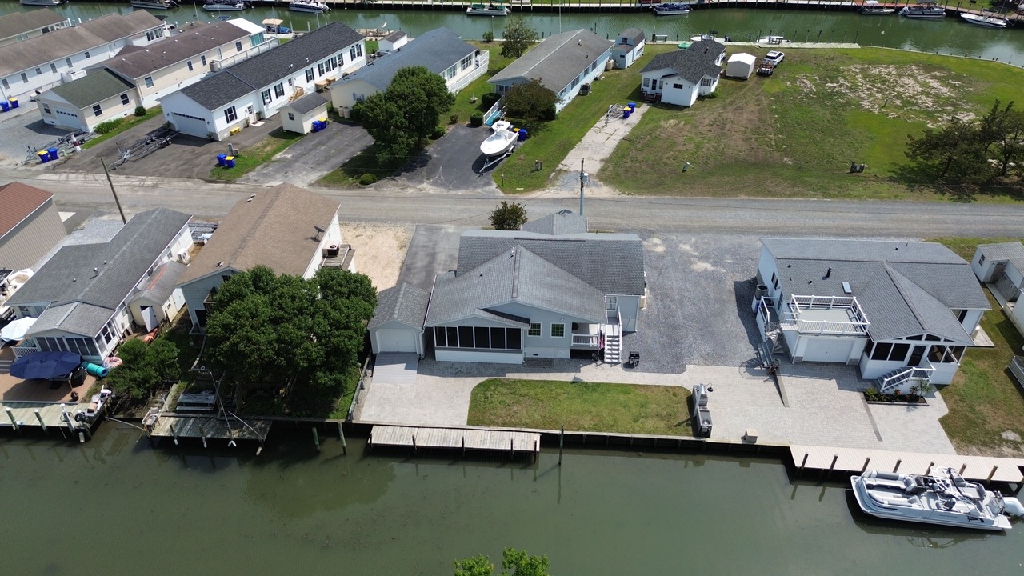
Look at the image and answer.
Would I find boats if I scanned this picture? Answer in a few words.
Yes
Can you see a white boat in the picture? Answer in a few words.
Yes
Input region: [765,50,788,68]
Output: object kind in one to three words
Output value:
car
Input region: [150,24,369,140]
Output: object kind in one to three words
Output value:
house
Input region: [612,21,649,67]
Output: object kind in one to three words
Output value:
shed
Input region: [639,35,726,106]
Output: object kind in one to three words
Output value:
house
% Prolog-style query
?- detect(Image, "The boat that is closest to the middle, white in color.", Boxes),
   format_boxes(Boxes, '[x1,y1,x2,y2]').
[487,119,529,156]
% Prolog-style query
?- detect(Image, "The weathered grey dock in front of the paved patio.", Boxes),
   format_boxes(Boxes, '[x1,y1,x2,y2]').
[368,426,540,470]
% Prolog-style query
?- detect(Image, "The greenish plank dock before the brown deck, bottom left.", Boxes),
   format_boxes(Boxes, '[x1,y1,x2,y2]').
[0,404,77,431]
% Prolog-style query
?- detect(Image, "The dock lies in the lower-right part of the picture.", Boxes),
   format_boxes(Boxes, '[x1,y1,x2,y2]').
[790,444,1024,497]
